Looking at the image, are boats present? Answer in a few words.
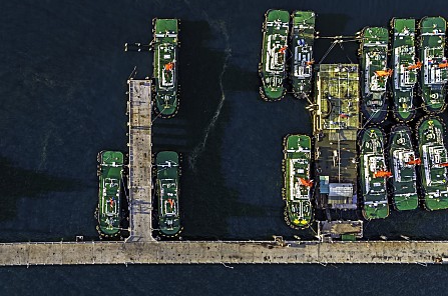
Yes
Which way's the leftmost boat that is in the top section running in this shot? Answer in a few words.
up and down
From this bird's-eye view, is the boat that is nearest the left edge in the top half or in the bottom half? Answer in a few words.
bottom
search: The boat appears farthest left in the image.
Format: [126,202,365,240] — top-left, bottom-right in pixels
[98,152,126,237]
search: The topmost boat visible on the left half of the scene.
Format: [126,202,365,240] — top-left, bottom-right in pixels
[153,20,181,116]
